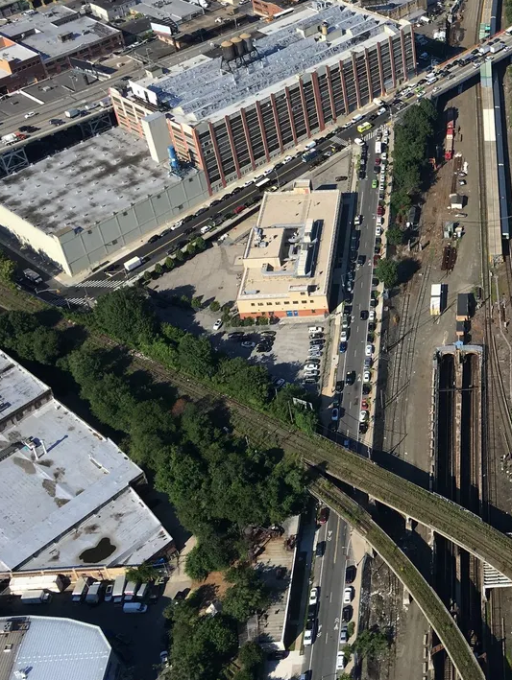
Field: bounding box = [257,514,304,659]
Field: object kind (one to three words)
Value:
shed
